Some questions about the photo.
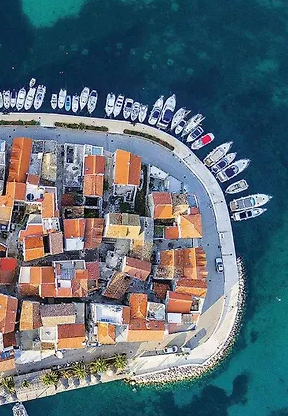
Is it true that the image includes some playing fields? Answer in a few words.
No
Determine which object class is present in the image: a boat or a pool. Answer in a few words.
boat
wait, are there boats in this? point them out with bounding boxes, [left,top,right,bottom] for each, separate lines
[131,100,140,123]
[214,158,252,184]
[105,92,116,118]
[192,131,216,150]
[10,89,16,111]
[79,86,90,110]
[114,92,124,120]
[226,193,274,213]
[24,87,36,113]
[65,94,71,112]
[169,107,186,131]
[122,96,133,120]
[140,102,147,124]
[33,83,45,113]
[209,152,237,174]
[146,96,164,127]
[174,120,186,136]
[183,124,205,143]
[183,113,203,137]
[228,208,269,222]
[88,88,98,117]
[51,92,57,113]
[16,87,26,111]
[14,401,28,416]
[3,88,10,111]
[156,94,176,131]
[72,94,79,112]
[202,141,234,167]
[57,87,66,111]
[224,178,249,195]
